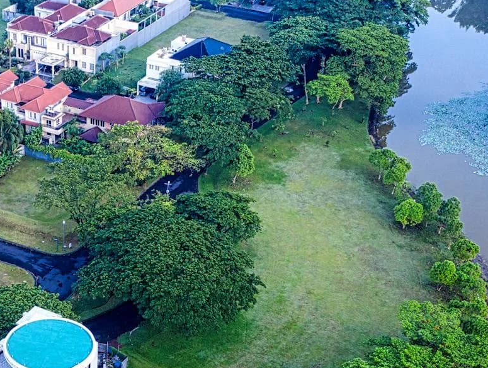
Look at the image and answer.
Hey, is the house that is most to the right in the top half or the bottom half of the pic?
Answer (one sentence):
The top half of the photo is where the house that is most to the right is.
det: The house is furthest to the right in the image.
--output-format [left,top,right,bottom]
[134,29,232,100]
